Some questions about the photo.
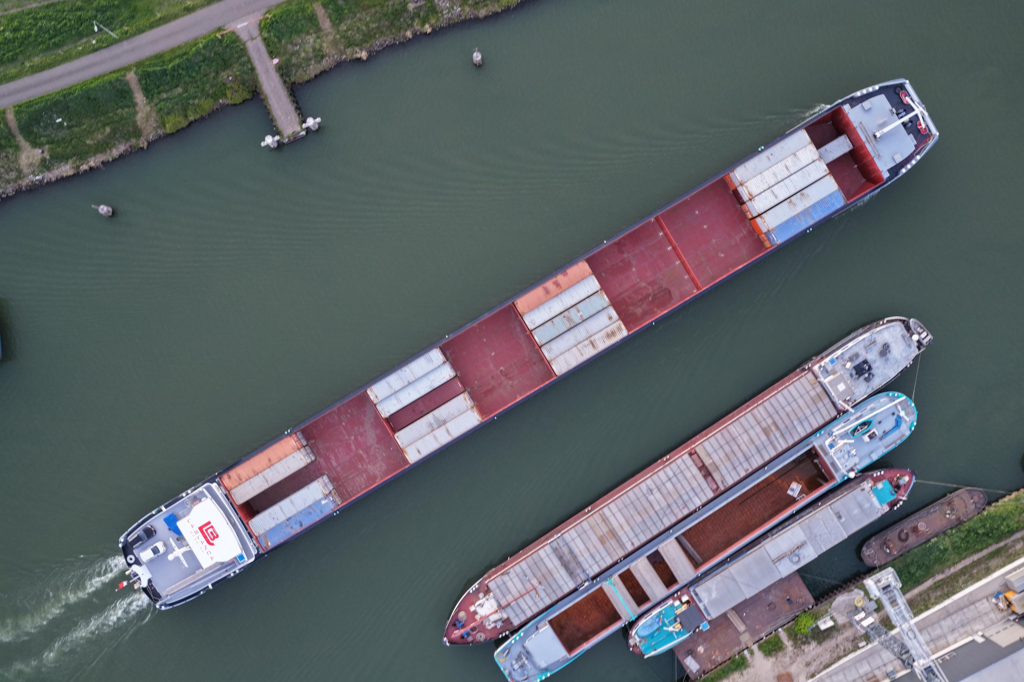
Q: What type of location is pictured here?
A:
port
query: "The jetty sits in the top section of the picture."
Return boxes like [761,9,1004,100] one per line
[259,74,310,146]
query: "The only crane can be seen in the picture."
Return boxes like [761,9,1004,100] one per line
[851,568,962,682]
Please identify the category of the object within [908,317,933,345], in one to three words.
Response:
boat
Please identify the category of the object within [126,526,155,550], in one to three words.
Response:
boat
